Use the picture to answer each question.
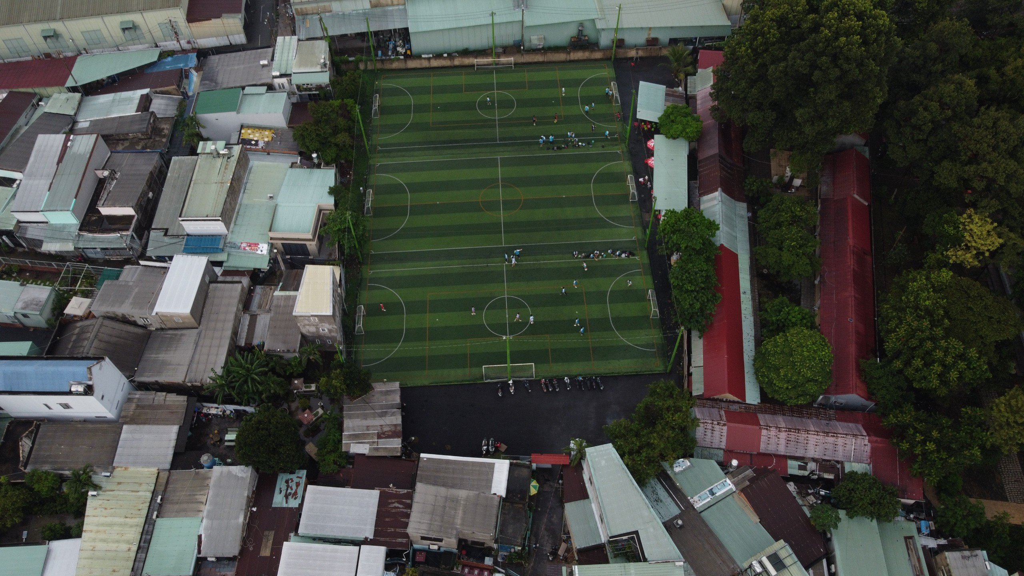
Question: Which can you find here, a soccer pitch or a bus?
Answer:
soccer pitch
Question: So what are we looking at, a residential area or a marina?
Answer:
residential area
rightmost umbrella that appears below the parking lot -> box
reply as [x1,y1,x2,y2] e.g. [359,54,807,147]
[527,479,541,498]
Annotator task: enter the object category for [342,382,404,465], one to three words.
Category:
shed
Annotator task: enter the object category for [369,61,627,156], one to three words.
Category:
soccer field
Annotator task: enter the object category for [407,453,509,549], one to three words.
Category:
house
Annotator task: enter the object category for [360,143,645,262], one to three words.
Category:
soccer field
